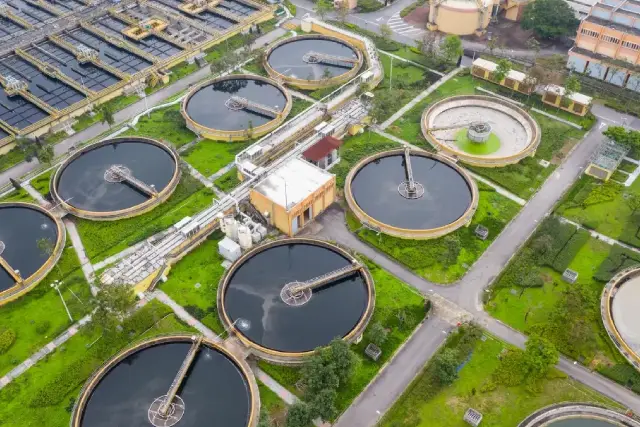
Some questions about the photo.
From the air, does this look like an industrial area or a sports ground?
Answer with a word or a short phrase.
industrial area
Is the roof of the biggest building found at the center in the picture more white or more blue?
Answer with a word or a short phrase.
white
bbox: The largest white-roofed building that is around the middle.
[249,154,338,234]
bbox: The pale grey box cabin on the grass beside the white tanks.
[218,238,242,266]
